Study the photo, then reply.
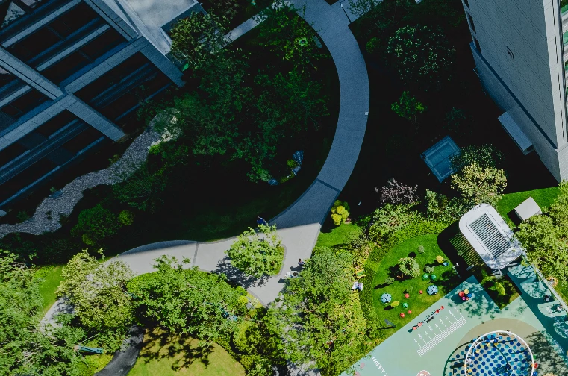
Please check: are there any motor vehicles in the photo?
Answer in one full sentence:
No, the scene contains no motor vehicle.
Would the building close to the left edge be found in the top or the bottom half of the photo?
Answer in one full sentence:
The top half of the photo is where the building close to the left edge is.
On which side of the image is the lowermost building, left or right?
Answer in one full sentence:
You can find the lowermost building on the right side of the picture.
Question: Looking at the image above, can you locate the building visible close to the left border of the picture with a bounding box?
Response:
[0,0,183,203]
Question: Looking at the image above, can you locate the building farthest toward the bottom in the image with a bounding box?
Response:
[460,201,526,273]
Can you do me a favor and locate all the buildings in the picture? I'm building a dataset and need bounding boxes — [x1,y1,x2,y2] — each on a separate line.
[460,201,526,273]
[0,0,183,203]
[451,0,568,183]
